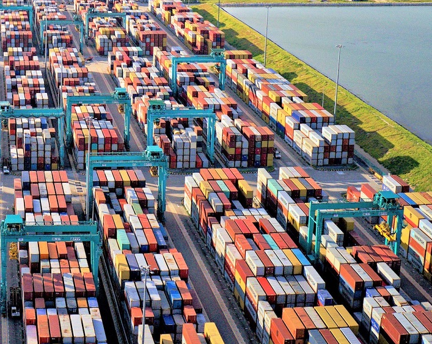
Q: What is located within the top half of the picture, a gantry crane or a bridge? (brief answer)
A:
gantry crane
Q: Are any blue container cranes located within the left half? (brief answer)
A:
Yes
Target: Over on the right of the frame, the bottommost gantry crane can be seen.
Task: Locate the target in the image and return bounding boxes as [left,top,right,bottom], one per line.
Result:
[289,184,395,251]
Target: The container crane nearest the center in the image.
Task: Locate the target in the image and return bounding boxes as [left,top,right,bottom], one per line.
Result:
[143,99,216,165]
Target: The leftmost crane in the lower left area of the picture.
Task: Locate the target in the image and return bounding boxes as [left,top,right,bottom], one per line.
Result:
[0,217,101,319]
